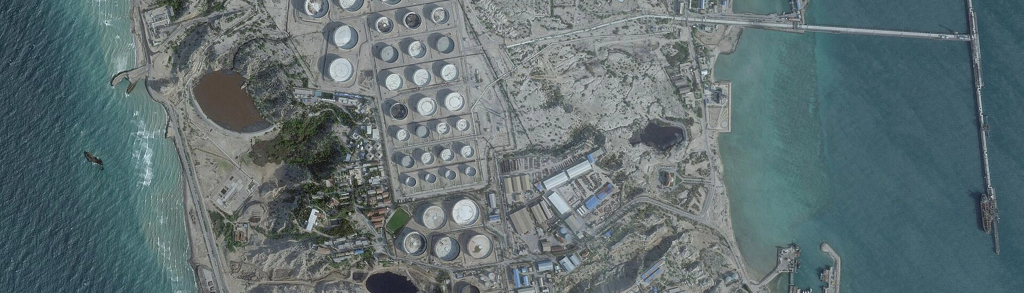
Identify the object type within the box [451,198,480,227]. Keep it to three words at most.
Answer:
storage tank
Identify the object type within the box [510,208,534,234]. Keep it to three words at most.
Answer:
building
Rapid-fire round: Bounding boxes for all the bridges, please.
[794,23,972,40]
